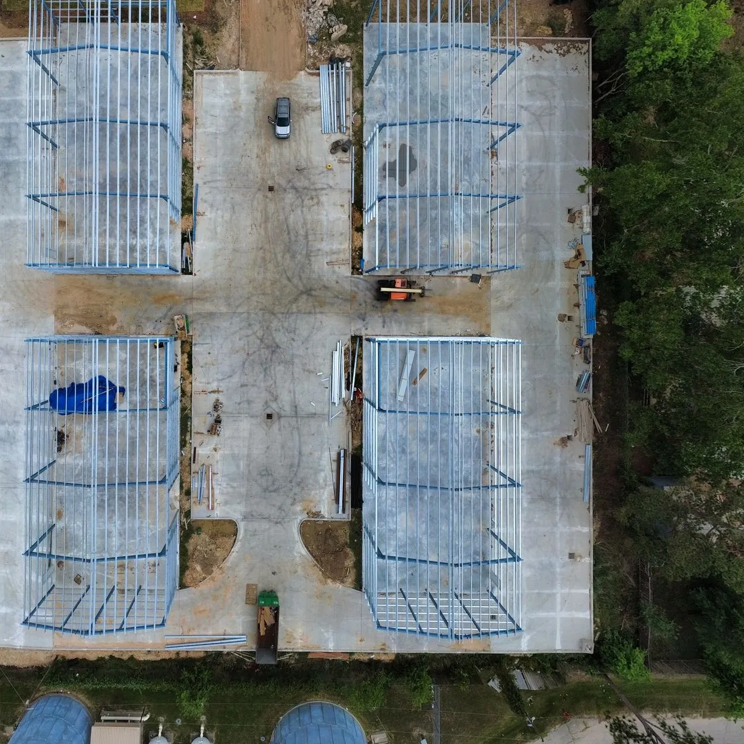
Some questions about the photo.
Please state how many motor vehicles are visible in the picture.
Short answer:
2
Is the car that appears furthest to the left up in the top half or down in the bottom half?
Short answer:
top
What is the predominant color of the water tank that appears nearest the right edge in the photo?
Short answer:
blue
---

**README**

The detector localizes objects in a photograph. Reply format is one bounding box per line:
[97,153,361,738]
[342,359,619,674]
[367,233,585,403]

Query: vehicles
[264,98,291,139]
[378,278,429,302]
